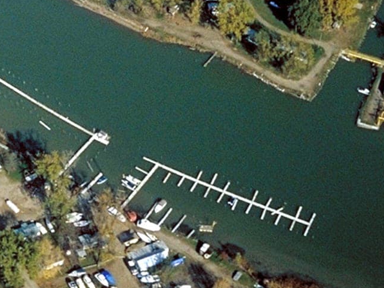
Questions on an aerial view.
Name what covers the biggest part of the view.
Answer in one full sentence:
Most of the picture is covered by water.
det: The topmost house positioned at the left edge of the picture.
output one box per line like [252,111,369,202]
[13,221,48,240]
